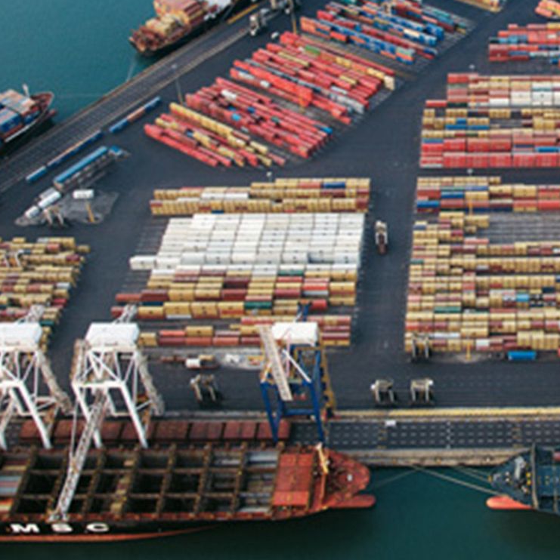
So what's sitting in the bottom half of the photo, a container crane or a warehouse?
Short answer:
container crane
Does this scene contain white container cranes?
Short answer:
Yes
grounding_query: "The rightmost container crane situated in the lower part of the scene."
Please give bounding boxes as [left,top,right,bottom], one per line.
[251,300,345,446]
